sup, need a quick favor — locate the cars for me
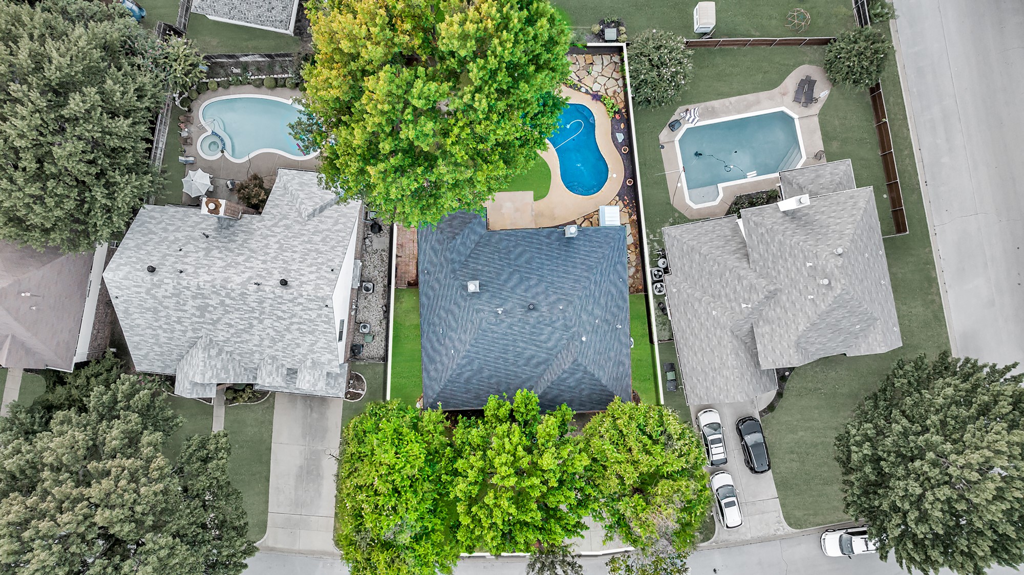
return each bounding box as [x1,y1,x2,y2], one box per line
[735,415,770,475]
[819,525,885,558]
[708,470,742,529]
[695,409,727,467]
